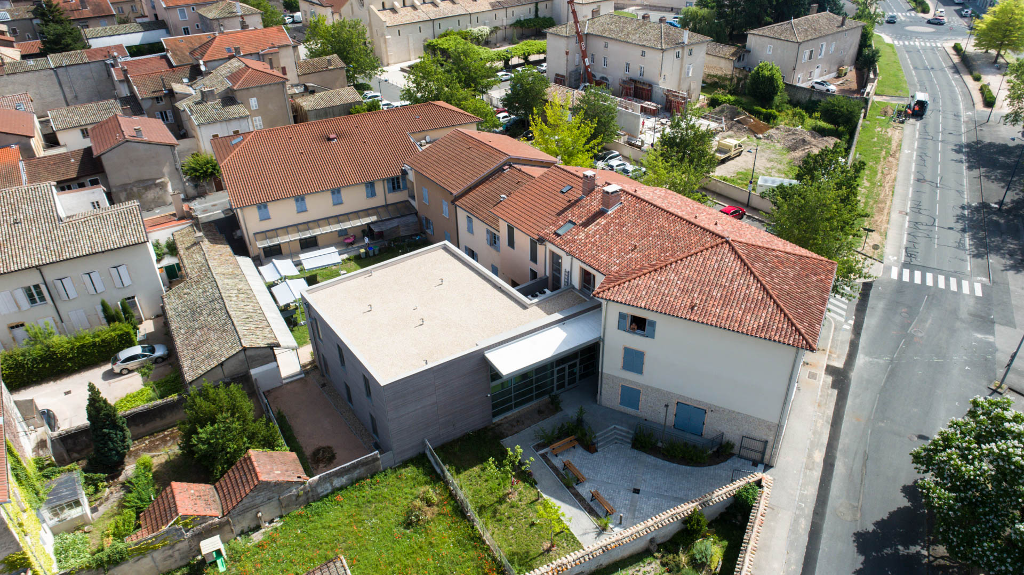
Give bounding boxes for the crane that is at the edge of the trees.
[564,0,628,97]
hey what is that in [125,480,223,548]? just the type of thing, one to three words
shed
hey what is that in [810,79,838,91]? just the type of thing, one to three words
vehicle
